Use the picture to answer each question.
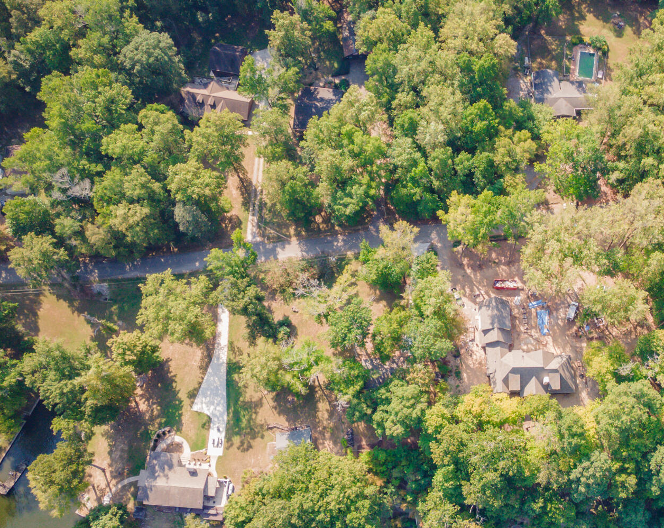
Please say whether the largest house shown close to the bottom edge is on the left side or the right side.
left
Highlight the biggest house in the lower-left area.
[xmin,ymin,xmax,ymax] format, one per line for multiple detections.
[136,452,218,508]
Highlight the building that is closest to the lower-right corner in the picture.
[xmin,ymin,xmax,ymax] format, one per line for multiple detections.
[478,297,575,397]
